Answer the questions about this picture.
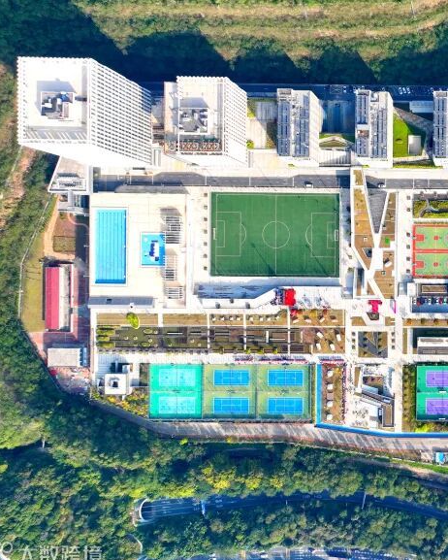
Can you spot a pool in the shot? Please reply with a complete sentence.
Yes, the picture does show a pool.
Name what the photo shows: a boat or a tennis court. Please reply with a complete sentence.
The one in the frame is a tennis court.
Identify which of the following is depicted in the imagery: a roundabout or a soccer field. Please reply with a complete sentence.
Of the two, only a soccer field appears.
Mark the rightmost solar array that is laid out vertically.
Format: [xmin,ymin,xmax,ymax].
[436,98,448,159]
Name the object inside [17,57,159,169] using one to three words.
building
